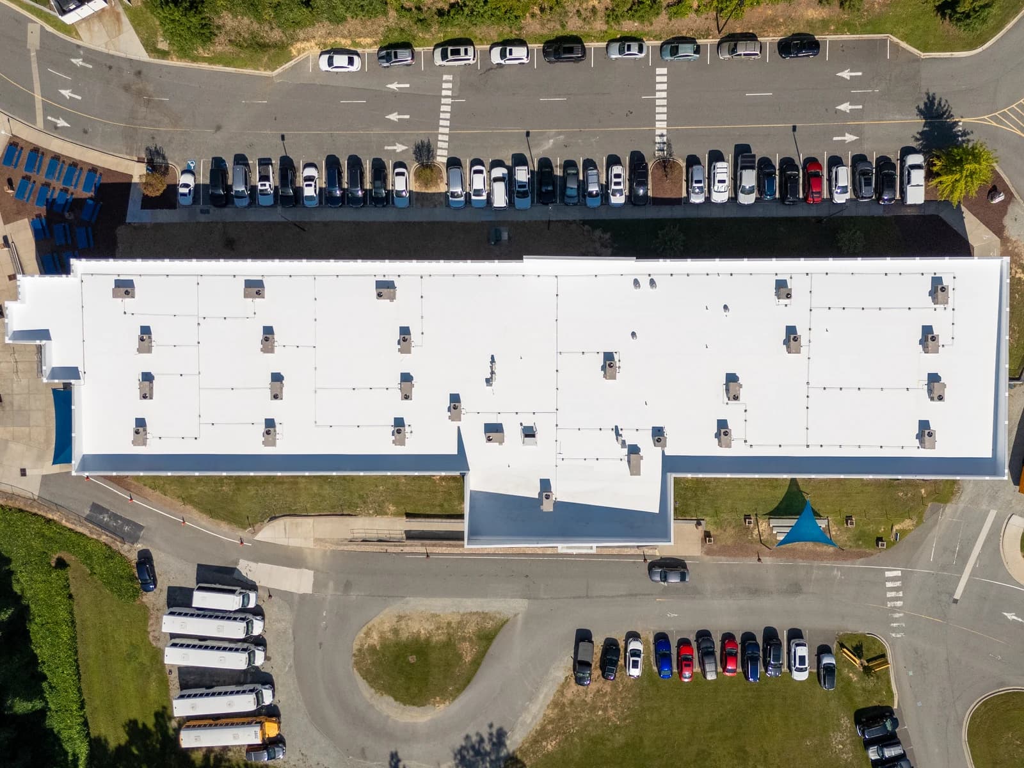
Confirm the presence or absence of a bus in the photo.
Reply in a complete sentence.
Yes, a bus appears in the view.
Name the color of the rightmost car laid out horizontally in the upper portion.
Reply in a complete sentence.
The rightmost car laid out horizontally in the upper portion is black.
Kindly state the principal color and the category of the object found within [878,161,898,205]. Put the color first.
black car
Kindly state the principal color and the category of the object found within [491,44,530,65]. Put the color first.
white car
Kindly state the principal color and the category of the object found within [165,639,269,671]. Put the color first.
white bus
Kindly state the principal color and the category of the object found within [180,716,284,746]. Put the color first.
white bus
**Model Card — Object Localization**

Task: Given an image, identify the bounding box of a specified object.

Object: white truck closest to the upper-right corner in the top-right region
[904,153,926,205]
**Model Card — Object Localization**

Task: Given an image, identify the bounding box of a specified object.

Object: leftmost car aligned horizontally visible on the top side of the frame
[320,52,361,72]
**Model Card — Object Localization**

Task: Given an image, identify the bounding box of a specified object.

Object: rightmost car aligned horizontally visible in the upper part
[777,38,820,59]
